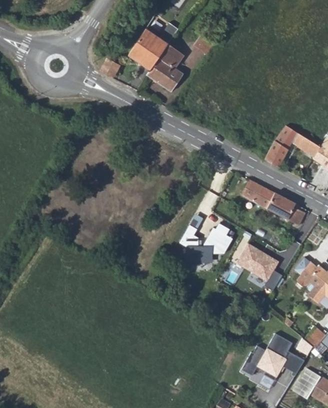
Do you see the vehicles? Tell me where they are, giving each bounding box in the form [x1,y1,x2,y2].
[208,214,218,222]
[215,135,226,142]
[297,180,308,188]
